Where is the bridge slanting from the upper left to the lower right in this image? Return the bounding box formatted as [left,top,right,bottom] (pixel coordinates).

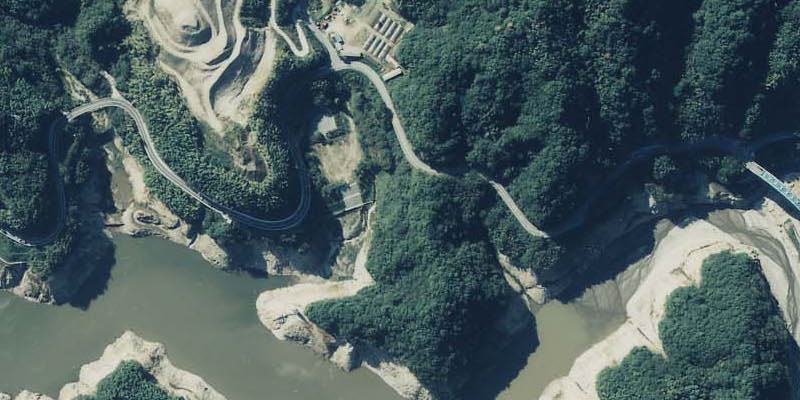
[747,162,800,214]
